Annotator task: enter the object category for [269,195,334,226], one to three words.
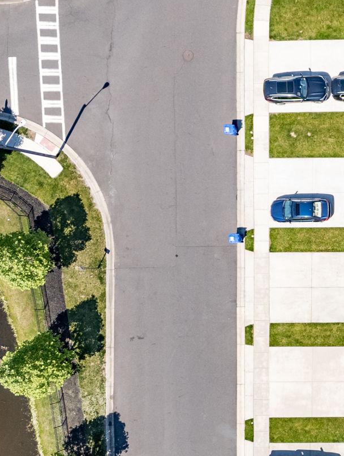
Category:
car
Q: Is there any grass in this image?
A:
Yes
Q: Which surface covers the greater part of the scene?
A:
paved ground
